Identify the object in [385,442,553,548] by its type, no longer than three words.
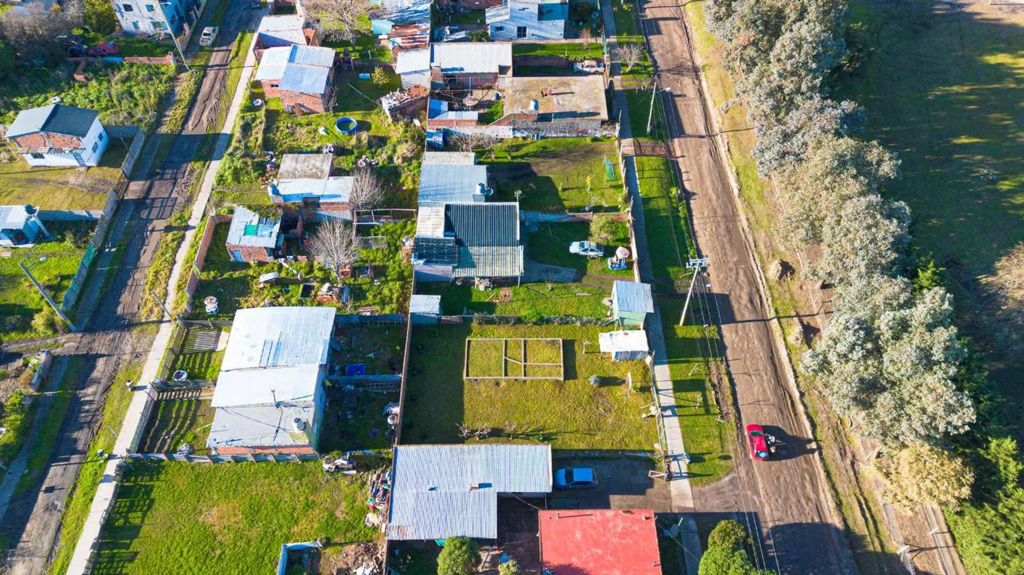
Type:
house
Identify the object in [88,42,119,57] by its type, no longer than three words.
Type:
car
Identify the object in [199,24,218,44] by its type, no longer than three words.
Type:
vehicle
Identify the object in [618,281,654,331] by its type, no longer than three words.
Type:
building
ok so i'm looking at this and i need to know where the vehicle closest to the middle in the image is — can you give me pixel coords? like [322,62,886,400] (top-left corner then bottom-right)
[569,240,605,258]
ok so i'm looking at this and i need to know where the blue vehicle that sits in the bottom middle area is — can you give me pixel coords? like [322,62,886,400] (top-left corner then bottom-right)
[555,467,598,490]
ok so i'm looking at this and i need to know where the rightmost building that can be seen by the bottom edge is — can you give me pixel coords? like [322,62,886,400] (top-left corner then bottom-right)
[538,508,664,575]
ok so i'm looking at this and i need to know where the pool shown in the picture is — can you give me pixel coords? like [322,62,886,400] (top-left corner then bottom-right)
[335,117,357,135]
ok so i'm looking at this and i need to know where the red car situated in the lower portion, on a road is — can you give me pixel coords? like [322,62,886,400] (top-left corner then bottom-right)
[745,424,771,464]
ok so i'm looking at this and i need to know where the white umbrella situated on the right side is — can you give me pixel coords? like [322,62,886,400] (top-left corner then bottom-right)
[616,244,632,256]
